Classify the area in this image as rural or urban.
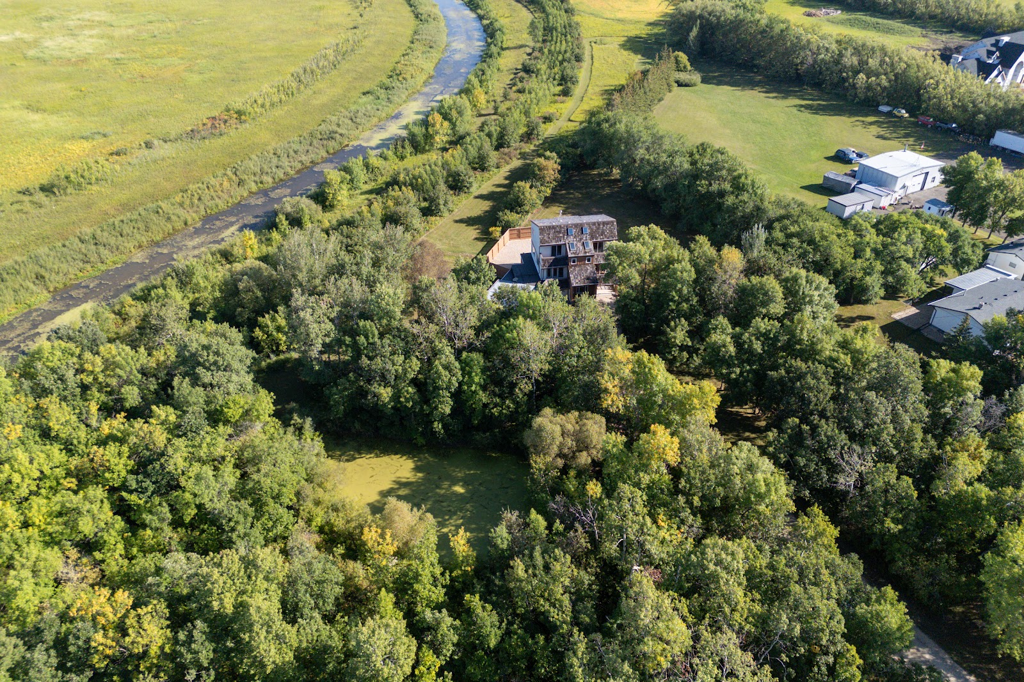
rural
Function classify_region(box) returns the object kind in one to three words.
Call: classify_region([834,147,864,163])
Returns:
car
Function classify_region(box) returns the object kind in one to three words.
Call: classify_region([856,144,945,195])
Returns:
building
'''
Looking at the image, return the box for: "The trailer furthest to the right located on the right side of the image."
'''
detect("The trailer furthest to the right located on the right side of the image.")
[987,127,1024,152]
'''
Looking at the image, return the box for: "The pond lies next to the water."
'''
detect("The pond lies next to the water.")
[295,414,533,627]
